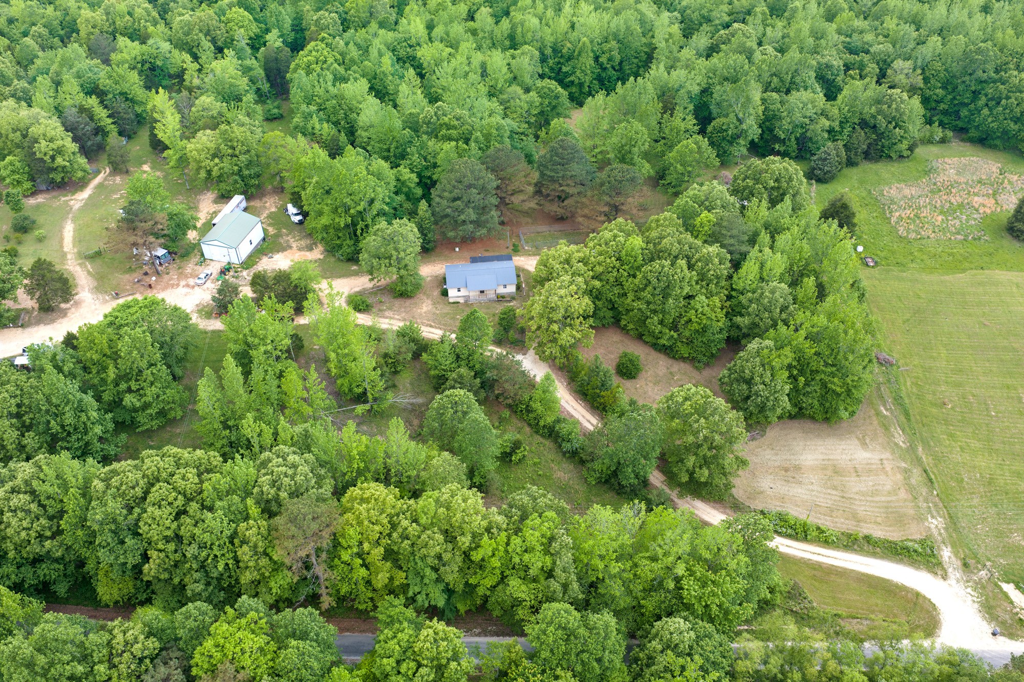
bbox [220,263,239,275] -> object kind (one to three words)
vehicle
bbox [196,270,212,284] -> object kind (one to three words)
car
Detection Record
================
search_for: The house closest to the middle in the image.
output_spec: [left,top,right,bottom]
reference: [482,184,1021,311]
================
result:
[446,254,517,303]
